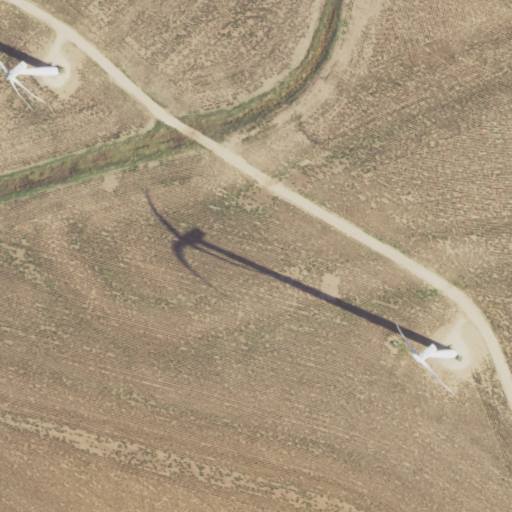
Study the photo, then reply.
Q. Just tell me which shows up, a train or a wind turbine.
wind turbine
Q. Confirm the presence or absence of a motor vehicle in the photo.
No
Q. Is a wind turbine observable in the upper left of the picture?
Yes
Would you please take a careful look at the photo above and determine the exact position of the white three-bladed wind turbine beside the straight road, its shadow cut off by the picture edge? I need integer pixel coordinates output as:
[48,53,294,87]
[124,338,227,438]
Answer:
[0,60,59,110]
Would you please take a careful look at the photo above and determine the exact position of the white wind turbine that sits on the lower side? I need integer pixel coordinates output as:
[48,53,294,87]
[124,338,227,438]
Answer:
[392,316,458,399]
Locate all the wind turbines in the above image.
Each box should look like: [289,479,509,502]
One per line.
[0,60,59,110]
[392,316,458,399]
